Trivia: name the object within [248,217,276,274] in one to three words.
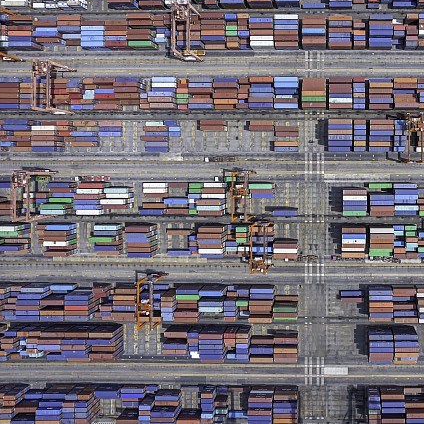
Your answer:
container crane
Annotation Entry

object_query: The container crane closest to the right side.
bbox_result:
[397,113,424,163]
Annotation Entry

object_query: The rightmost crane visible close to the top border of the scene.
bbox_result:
[171,2,205,60]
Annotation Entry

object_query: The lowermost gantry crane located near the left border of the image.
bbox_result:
[11,169,57,221]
